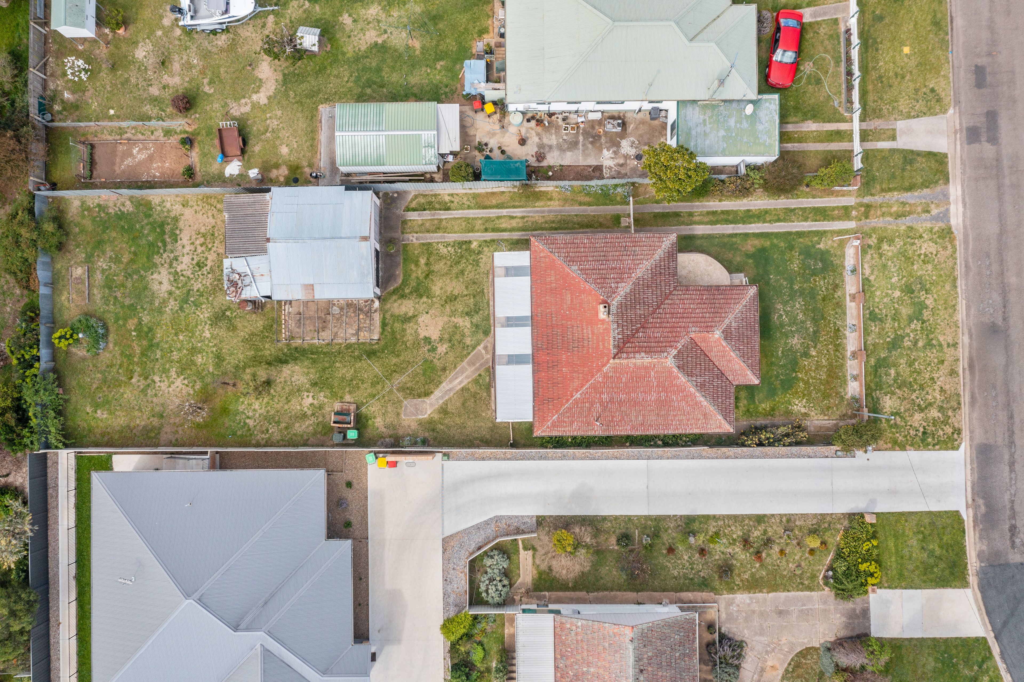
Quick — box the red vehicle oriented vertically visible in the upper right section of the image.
[763,8,805,91]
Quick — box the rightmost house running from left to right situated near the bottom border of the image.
[520,604,698,682]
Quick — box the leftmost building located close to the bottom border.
[89,467,372,682]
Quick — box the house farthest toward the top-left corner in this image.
[48,0,107,46]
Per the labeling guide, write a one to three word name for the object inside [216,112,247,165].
trailer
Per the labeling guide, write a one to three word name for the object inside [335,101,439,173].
shed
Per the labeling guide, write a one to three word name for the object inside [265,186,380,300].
shed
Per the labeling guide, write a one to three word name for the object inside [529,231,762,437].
house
